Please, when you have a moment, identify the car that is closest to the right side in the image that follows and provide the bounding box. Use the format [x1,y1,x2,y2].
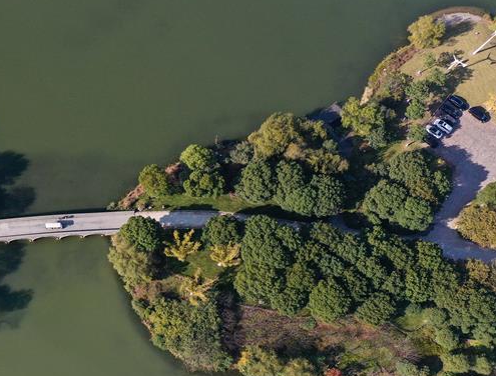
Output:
[467,106,489,124]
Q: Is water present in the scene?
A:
Yes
